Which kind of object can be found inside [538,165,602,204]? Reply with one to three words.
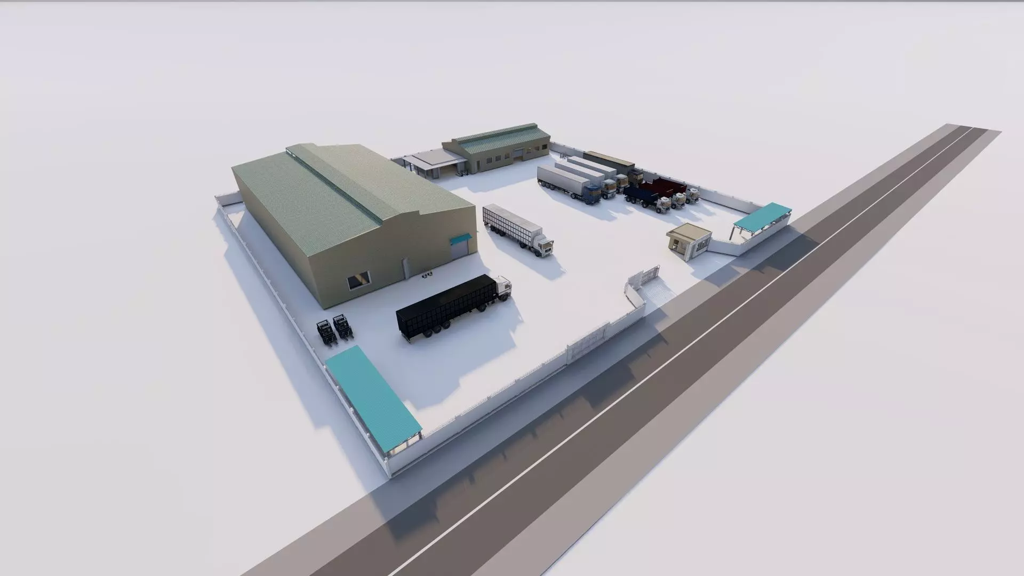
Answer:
truck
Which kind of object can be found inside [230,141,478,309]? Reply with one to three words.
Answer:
warehouse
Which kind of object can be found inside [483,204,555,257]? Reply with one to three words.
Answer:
truck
